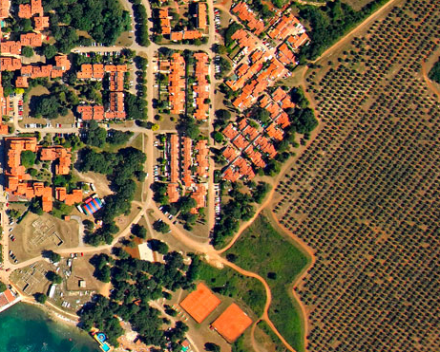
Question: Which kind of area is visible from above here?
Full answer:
This image shows a residential area.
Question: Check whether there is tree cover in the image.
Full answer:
Yes, there's tree cover in this view.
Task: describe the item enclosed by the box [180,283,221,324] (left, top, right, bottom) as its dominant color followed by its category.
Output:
orange tennis court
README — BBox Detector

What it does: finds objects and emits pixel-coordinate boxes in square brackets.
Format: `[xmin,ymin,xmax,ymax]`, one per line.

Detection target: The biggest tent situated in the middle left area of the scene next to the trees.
[79,196,104,218]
